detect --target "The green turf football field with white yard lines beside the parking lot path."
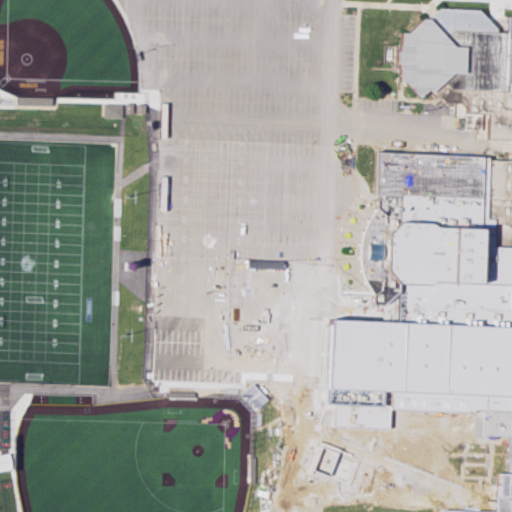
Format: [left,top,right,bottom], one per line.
[0,142,115,384]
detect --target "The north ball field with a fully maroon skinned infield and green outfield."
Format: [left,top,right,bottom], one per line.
[0,0,138,98]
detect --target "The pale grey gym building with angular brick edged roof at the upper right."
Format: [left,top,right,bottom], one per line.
[398,10,512,98]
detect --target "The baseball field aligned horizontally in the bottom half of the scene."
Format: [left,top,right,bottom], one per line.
[18,396,250,512]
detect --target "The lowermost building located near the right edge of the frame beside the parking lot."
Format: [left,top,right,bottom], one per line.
[328,152,512,428]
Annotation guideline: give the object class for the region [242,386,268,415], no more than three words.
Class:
building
